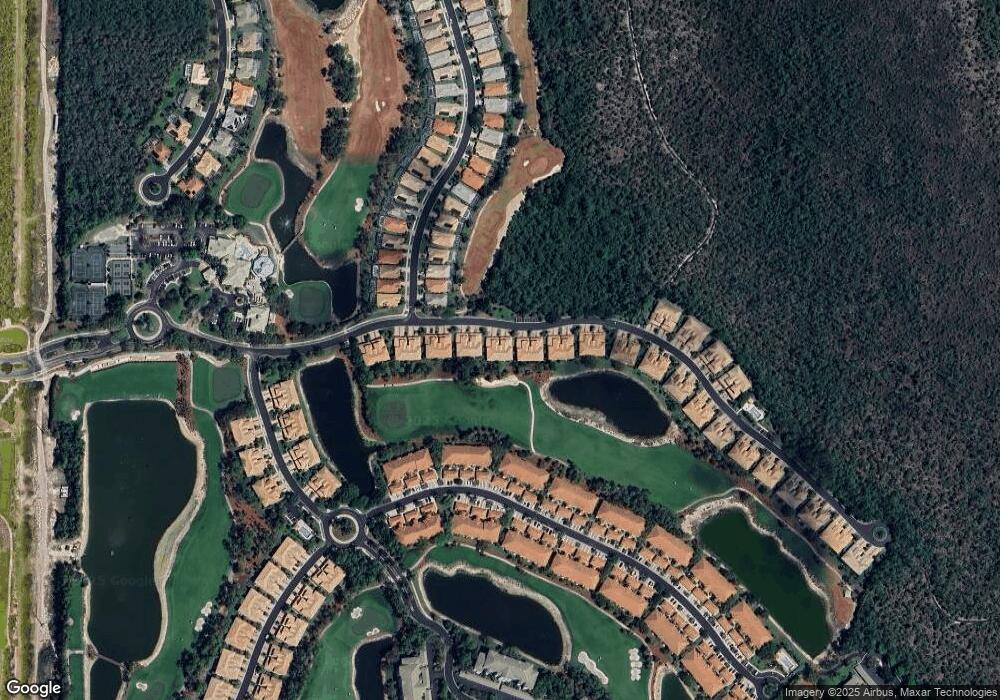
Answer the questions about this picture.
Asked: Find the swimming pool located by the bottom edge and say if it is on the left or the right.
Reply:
right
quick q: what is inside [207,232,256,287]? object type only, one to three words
building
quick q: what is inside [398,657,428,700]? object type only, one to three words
building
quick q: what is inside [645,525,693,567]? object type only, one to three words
house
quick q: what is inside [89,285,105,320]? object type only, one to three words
tennis court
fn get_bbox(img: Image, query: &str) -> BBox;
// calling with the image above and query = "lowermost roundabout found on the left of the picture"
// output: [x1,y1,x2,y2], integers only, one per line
[323,509,364,550]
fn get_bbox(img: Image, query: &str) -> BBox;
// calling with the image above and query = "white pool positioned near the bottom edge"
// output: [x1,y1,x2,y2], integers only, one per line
[775,649,799,674]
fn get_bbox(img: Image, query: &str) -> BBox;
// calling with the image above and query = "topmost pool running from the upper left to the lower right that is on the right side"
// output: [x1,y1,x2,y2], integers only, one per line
[744,401,766,421]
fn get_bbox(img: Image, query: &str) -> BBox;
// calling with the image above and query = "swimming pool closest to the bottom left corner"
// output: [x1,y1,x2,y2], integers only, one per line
[297,522,316,544]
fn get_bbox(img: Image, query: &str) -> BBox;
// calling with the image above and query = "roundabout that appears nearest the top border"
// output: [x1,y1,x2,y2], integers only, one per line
[141,174,170,203]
